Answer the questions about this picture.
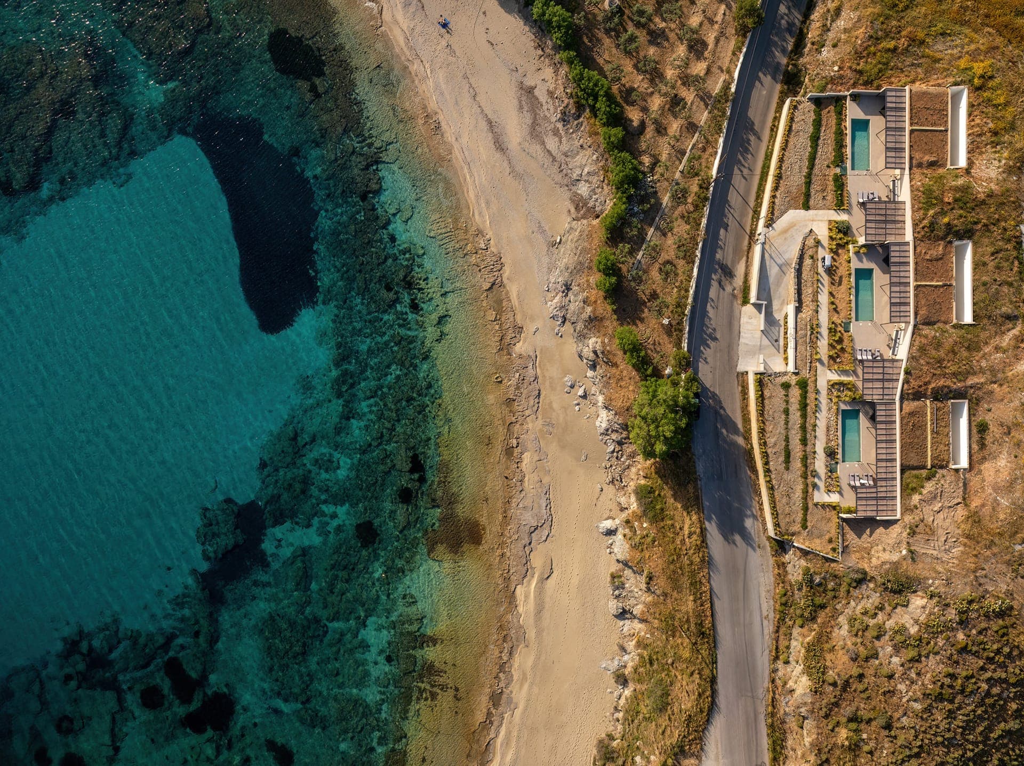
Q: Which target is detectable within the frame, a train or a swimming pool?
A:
swimming pool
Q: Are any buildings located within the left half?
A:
No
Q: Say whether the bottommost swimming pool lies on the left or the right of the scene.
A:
right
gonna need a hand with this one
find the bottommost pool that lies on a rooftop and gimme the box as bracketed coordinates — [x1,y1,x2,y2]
[841,408,862,466]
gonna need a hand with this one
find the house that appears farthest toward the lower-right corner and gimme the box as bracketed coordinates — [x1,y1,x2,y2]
[831,399,901,520]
